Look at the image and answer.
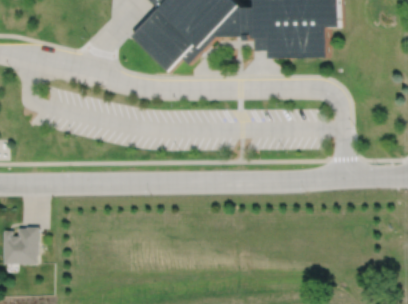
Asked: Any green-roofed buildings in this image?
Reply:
No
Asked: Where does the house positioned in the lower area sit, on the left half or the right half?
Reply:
left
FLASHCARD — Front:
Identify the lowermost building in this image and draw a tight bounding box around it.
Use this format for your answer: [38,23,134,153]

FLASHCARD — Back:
[4,227,42,274]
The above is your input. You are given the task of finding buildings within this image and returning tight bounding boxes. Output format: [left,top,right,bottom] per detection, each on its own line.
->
[4,227,42,274]
[134,0,344,72]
